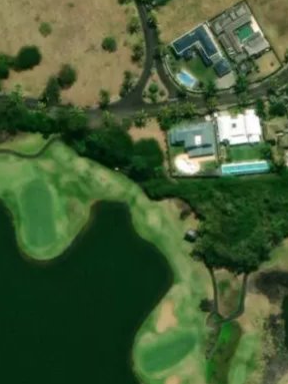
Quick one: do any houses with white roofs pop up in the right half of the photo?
Yes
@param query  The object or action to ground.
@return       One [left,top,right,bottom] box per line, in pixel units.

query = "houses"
[218,109,262,145]
[172,24,232,78]
[264,116,288,149]
[210,3,272,61]
[172,122,215,157]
